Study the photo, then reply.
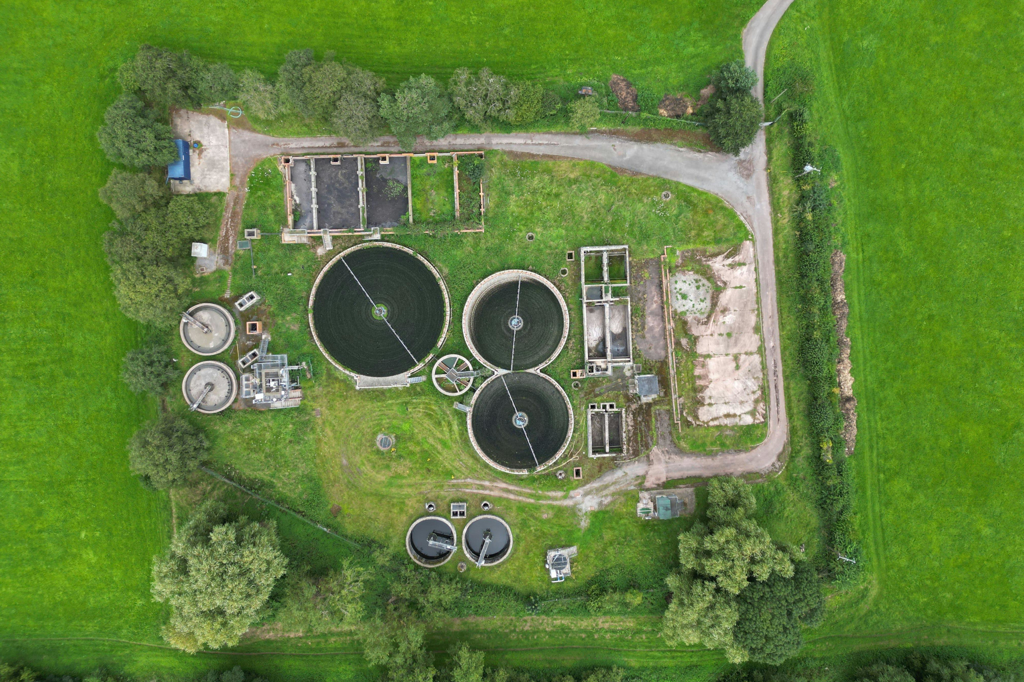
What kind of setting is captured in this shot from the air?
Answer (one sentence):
This image shows an industrial area.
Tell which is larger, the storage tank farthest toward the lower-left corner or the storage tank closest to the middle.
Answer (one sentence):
The storage tank closest to the middle is bigger than the storage tank farthest toward the lower-left corner.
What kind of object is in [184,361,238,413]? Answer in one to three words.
storage tank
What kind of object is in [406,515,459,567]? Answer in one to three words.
storage tank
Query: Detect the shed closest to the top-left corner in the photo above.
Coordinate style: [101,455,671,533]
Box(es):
[166,139,193,184]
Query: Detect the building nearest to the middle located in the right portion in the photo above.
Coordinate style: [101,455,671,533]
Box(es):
[629,365,659,403]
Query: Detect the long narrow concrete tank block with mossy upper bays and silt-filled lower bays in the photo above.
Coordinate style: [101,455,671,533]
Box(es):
[579,245,634,377]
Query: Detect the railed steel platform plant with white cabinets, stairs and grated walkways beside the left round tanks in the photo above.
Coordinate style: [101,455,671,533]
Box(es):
[239,333,305,410]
